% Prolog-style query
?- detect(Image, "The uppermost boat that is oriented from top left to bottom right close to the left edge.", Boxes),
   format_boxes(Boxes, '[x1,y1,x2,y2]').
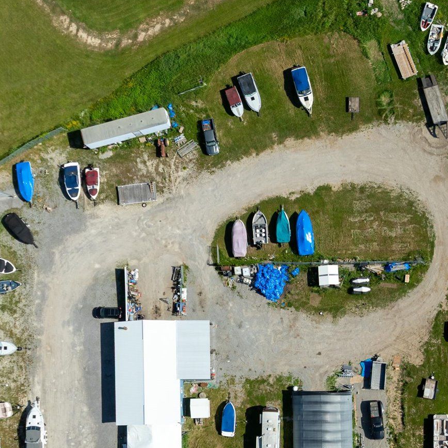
[1,211,35,245]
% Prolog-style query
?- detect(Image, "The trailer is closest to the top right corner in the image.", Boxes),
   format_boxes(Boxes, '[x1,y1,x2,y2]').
[419,76,448,136]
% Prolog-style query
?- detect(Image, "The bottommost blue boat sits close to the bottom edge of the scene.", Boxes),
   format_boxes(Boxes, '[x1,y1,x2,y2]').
[221,402,236,437]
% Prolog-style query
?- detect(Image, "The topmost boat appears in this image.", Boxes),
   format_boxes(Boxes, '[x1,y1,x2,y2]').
[421,2,439,31]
